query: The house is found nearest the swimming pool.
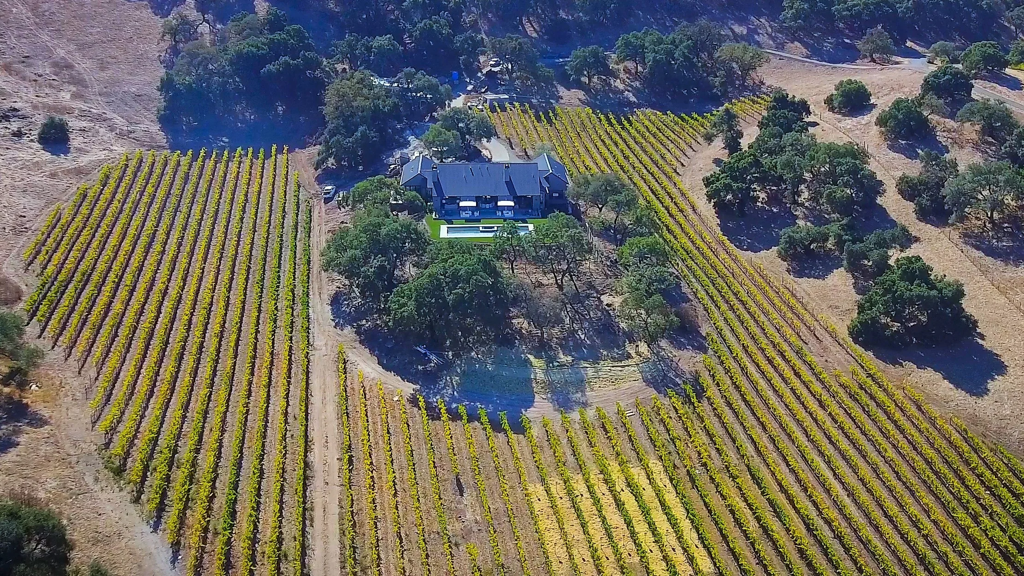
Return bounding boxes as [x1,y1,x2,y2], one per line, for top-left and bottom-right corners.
[397,156,572,217]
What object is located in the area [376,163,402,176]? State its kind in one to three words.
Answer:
vehicle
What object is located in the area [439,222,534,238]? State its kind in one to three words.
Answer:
swimming pool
